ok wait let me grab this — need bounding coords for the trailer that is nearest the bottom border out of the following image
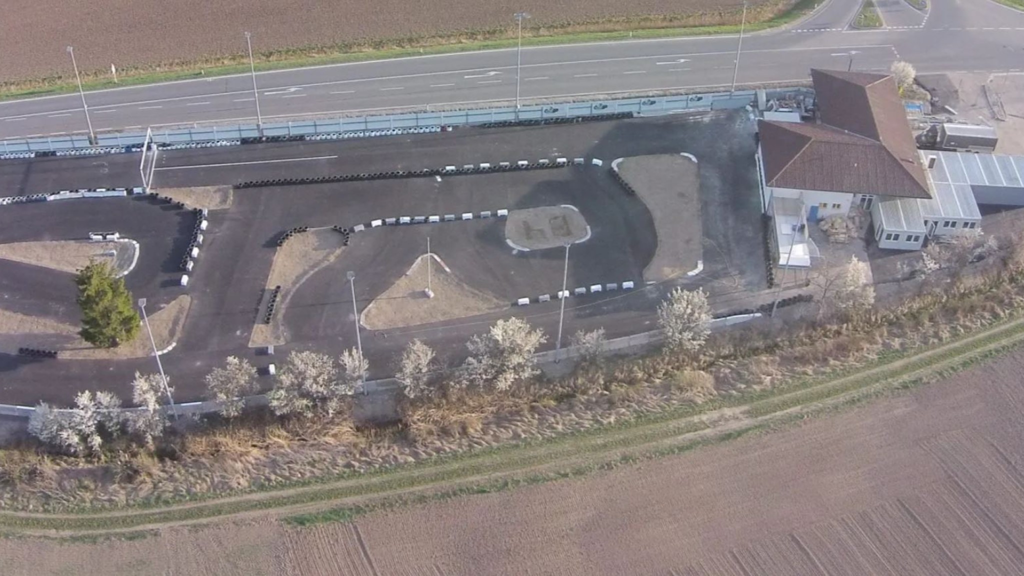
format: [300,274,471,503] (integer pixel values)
[939,124,998,153]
